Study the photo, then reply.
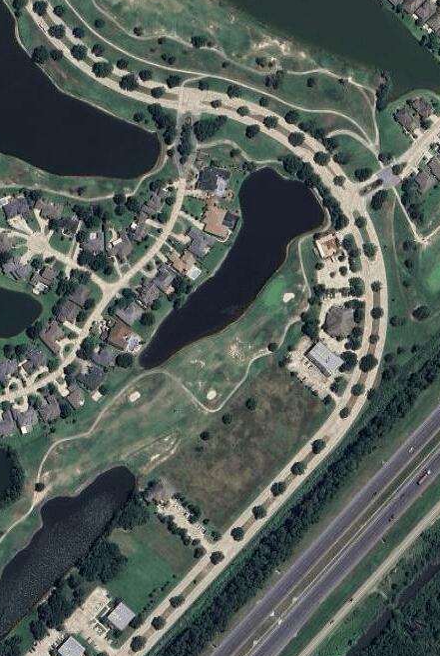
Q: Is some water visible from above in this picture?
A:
Yes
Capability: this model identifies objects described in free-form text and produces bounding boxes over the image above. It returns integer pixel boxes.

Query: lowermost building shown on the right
[307,341,341,376]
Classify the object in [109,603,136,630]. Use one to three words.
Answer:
building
